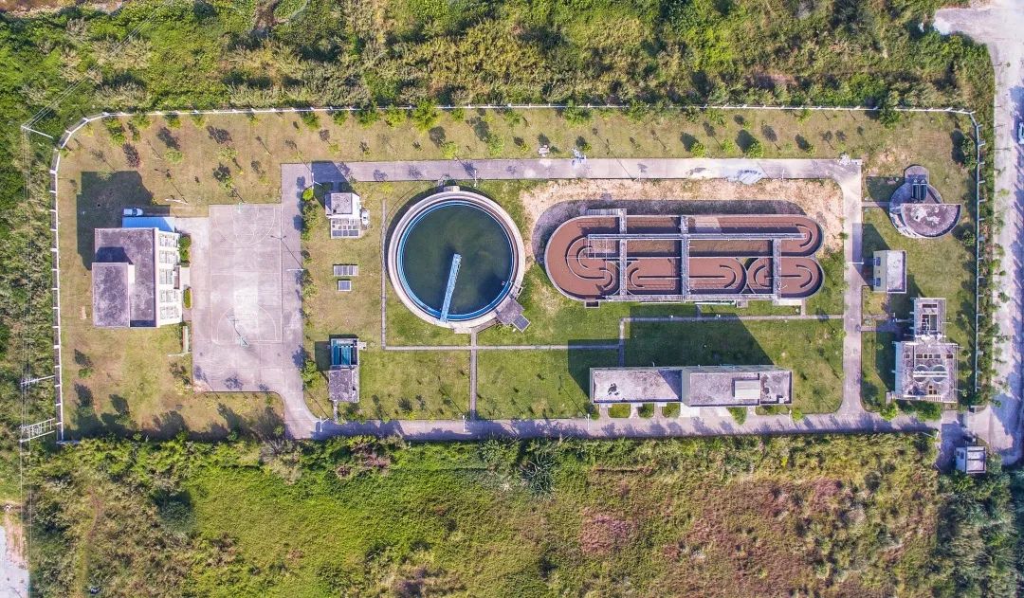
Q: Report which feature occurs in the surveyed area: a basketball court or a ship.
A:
basketball court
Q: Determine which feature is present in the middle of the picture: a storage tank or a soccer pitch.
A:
storage tank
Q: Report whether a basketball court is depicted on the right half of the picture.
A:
No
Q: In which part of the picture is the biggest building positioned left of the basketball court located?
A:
left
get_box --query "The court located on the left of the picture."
[192,205,282,391]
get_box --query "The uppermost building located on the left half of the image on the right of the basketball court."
[325,193,361,218]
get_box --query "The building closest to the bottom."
[955,443,987,473]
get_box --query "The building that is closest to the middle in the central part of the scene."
[472,286,526,336]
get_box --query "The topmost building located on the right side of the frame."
[886,161,963,232]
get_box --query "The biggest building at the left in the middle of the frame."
[92,228,190,328]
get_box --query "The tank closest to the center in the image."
[388,179,526,333]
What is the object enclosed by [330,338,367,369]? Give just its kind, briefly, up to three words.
storage tank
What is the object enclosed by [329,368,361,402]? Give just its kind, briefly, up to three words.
house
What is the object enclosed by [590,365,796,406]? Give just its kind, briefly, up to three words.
building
